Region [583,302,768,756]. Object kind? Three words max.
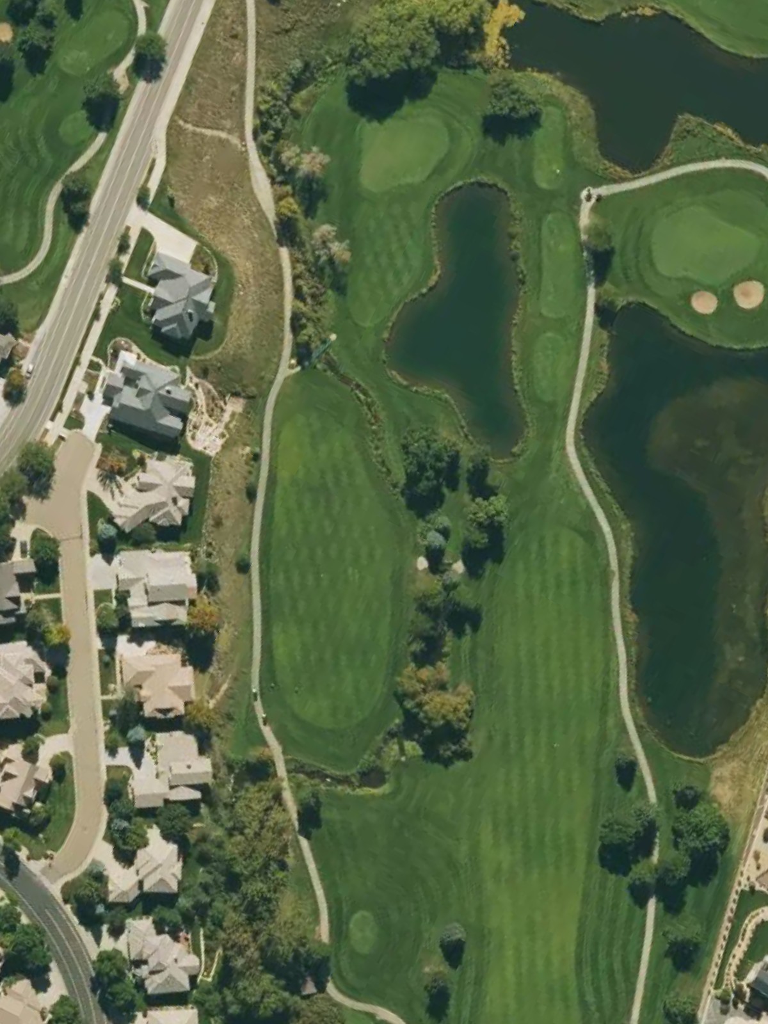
pond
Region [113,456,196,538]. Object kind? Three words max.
house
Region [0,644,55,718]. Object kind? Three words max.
house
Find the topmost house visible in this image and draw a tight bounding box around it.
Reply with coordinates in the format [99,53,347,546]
[148,250,215,341]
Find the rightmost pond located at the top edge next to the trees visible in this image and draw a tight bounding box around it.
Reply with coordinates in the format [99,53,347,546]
[507,0,768,174]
